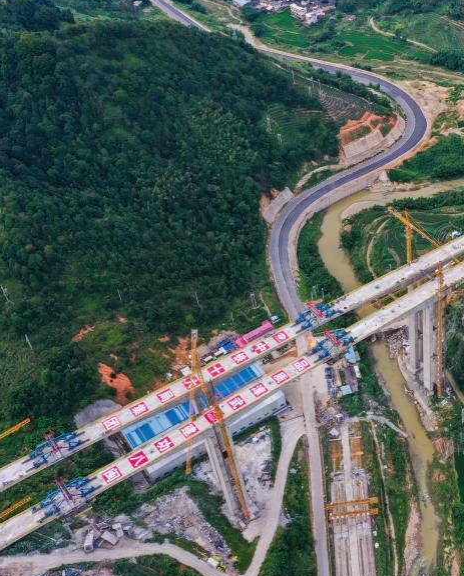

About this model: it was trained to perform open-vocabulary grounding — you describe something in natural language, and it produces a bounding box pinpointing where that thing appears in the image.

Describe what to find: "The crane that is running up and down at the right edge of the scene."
[433,265,445,398]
